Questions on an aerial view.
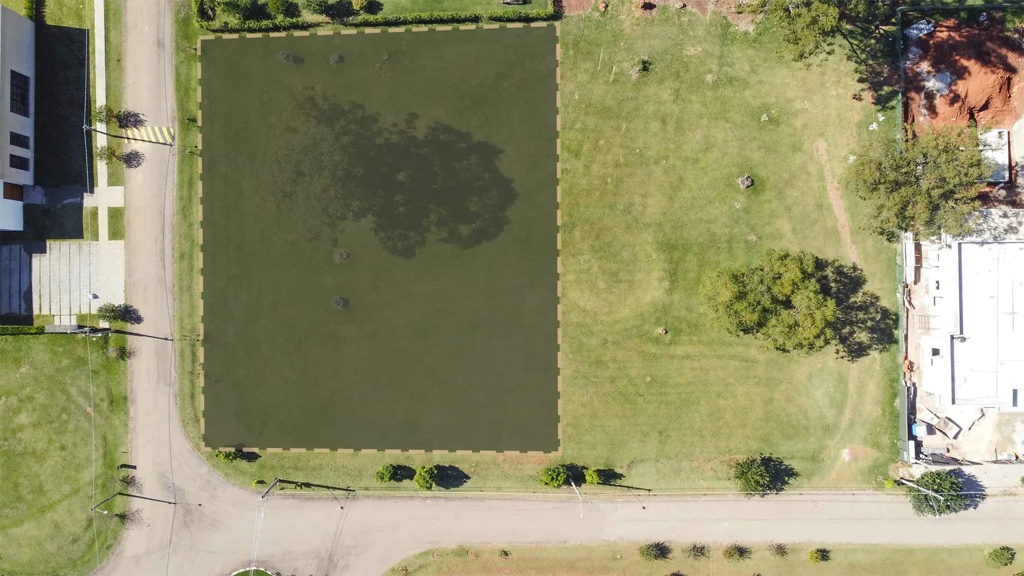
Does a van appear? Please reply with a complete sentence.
No, no van is visible in the view.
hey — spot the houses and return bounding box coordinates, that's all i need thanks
[918,212,1024,405]
[0,4,35,230]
